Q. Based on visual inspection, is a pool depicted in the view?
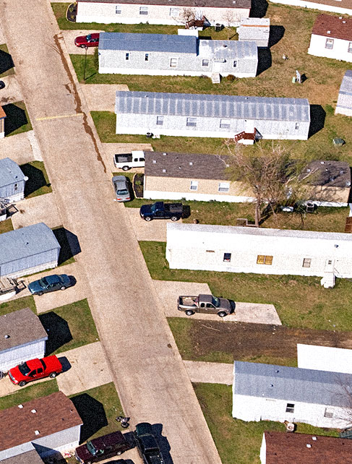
No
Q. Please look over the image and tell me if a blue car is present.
Yes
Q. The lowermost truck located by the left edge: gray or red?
red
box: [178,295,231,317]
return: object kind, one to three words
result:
truck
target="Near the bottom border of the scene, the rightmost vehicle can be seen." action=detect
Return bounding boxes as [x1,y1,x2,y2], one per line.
[135,426,169,464]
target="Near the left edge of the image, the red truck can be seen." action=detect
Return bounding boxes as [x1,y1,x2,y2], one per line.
[8,354,63,386]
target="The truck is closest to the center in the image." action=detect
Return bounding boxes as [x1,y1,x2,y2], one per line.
[137,201,187,224]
